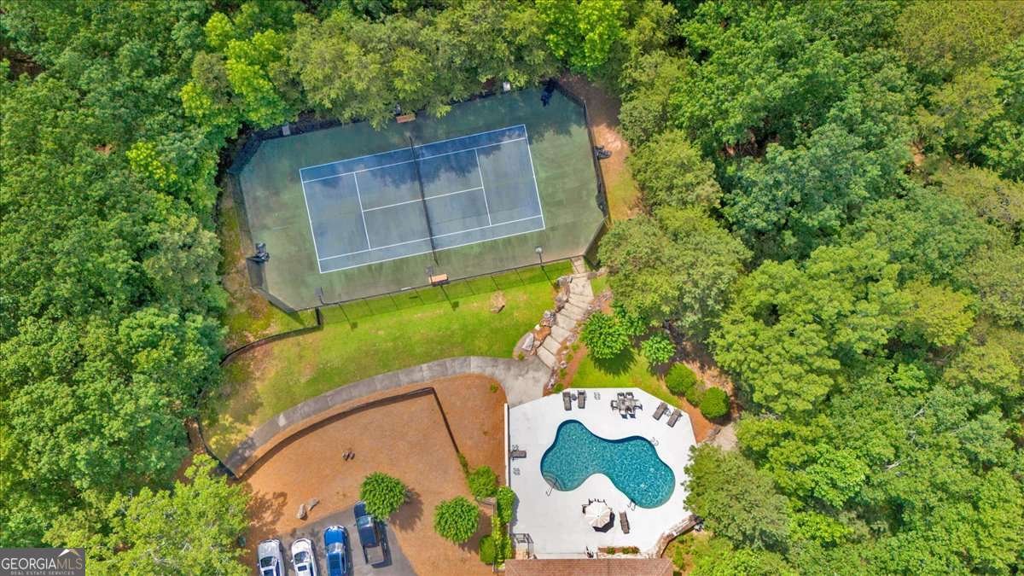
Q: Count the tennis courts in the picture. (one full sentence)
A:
In total, 1 tennis court can be seen.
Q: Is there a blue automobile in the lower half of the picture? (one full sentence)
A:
Yes, I can see a blue automobile in the lower half of the picture.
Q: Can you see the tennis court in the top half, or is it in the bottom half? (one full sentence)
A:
You can find the tennis court in the top half.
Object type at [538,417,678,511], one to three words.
swimming pool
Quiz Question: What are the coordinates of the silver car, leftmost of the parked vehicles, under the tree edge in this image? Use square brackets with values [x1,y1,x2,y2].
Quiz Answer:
[259,538,286,576]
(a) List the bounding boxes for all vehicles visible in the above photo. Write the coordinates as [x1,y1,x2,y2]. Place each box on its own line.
[353,501,385,565]
[291,536,317,576]
[323,524,349,576]
[259,538,286,576]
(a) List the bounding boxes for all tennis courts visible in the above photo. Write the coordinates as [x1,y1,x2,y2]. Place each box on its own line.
[240,84,608,310]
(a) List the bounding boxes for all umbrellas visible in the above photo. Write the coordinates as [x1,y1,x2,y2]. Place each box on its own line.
[585,500,611,526]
